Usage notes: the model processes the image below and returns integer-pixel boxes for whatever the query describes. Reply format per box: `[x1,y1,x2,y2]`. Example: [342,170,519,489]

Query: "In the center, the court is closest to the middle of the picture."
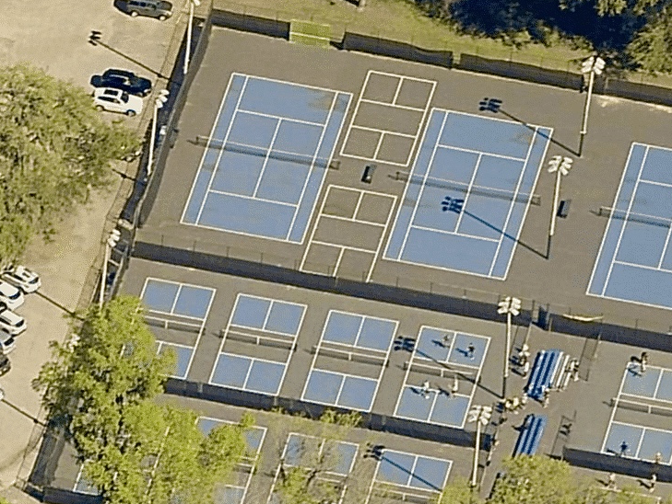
[301,185,395,282]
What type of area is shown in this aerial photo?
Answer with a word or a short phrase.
sports ground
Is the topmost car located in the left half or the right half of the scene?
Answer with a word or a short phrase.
left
